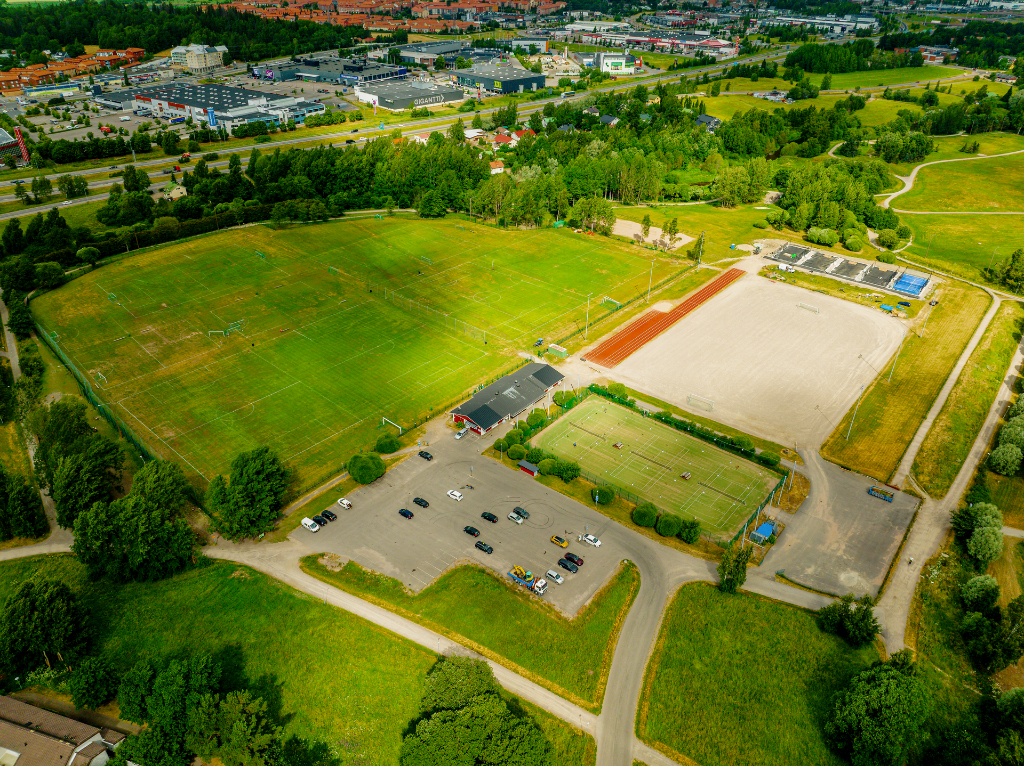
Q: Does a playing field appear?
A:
Yes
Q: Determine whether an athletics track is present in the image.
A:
Yes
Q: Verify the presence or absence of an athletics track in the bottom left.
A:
No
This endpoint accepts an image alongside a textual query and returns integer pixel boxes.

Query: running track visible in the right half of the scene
[583,268,743,368]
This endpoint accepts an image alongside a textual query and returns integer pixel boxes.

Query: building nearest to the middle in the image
[450,362,565,437]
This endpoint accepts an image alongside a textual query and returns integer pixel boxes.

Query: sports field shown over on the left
[32,214,697,533]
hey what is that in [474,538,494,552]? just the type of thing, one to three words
car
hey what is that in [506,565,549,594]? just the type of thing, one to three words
truck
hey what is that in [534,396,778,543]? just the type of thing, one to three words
sports court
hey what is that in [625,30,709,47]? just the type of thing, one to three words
building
